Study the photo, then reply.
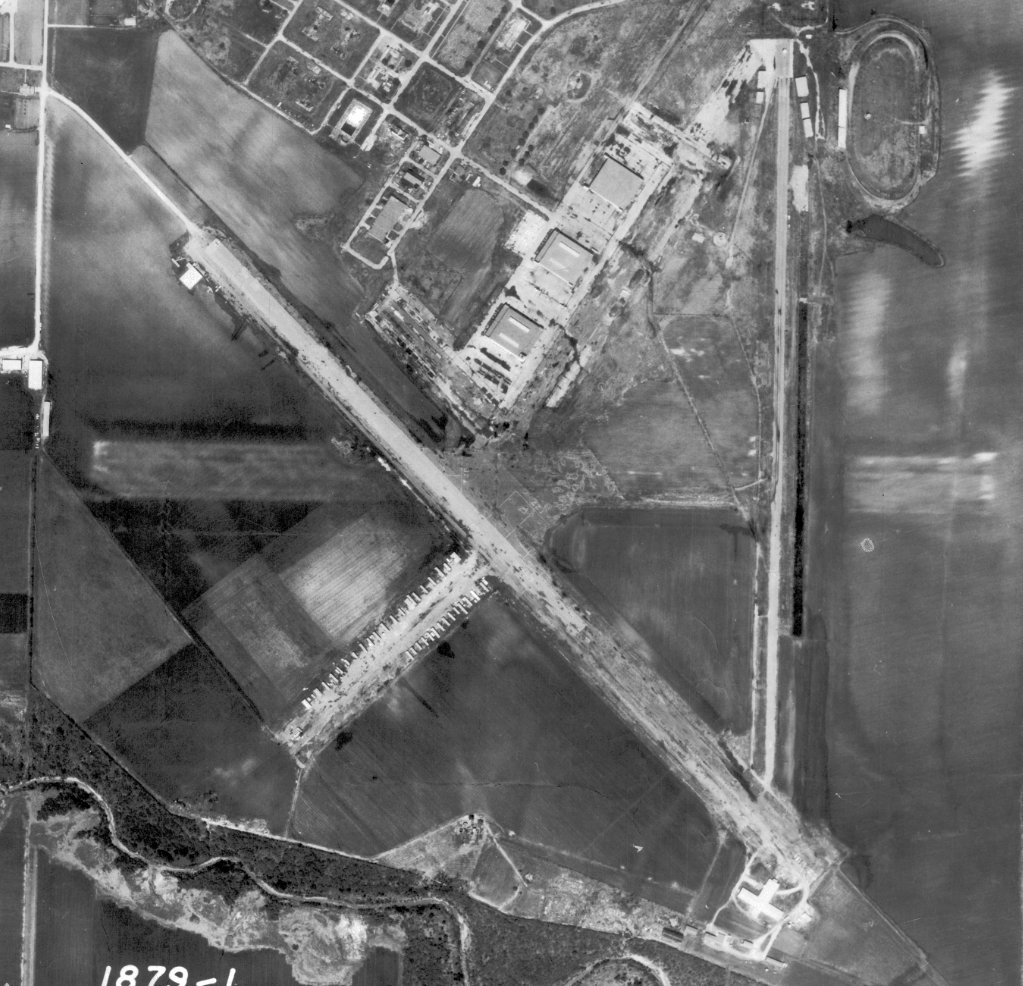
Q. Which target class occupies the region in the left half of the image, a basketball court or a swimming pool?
swimming pool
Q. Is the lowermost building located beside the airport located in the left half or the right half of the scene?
right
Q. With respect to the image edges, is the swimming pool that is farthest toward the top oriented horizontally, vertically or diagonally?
diagonally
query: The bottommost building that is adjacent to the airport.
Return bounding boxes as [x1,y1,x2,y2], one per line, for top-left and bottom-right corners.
[738,878,785,922]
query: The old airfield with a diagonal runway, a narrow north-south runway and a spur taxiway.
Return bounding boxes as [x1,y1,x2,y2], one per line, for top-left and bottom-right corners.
[185,40,845,888]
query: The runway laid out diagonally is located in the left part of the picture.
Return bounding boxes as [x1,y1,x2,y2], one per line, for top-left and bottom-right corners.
[207,240,584,634]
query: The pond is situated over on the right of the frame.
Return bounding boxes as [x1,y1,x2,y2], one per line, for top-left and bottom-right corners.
[851,216,944,268]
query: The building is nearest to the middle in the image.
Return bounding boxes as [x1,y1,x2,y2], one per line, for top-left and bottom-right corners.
[486,304,543,360]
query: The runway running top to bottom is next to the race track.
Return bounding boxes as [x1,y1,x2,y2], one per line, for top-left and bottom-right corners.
[766,78,790,783]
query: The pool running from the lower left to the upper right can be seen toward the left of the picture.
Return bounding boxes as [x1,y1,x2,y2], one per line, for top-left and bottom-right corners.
[330,99,371,145]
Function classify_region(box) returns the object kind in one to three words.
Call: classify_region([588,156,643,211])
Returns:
hangar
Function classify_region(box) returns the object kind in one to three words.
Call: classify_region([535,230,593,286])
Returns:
hangar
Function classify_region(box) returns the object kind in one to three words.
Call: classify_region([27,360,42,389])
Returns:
building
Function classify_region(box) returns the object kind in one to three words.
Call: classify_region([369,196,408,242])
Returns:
building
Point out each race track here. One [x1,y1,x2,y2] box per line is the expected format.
[843,28,930,211]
